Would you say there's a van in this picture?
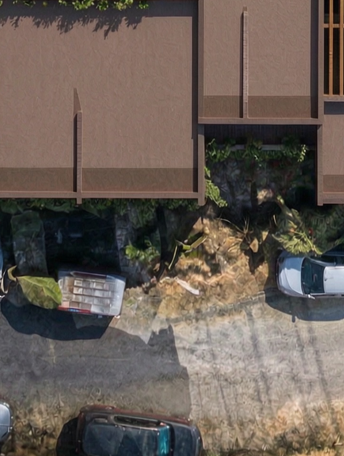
Yes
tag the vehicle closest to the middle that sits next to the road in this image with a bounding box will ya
[56,261,129,318]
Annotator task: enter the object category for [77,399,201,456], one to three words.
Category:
car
